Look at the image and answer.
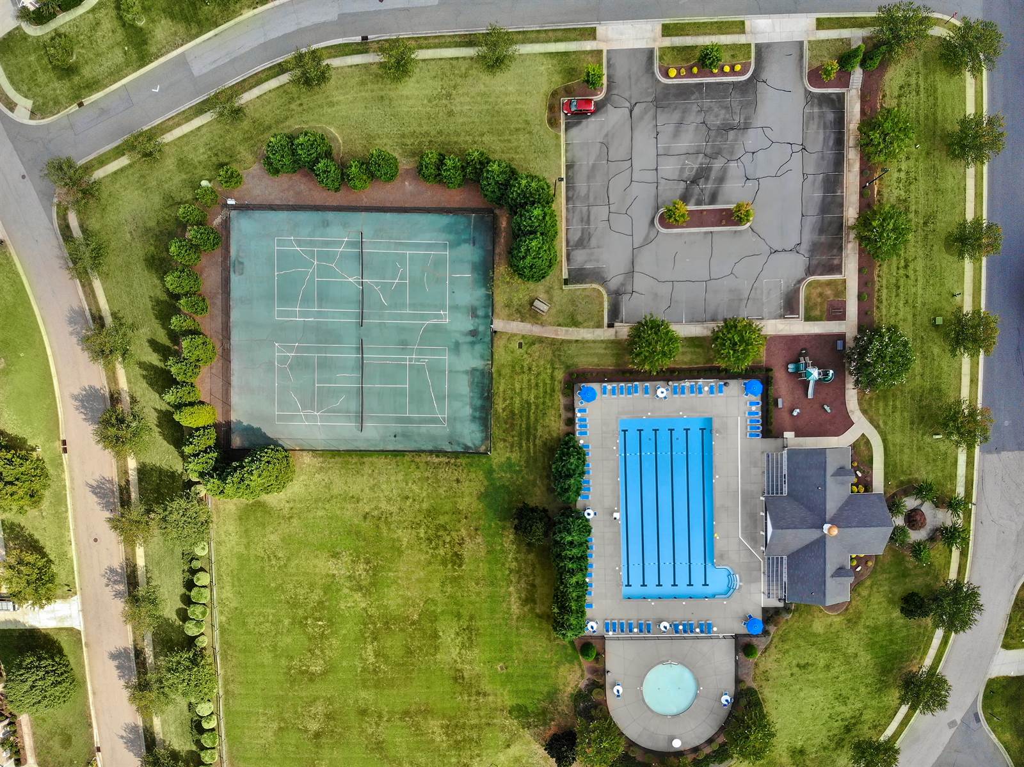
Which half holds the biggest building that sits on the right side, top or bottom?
bottom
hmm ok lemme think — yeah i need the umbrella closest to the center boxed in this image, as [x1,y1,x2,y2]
[580,386,597,403]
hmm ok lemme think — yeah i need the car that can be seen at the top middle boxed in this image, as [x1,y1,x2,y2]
[565,96,596,114]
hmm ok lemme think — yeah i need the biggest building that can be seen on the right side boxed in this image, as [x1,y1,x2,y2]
[757,447,894,609]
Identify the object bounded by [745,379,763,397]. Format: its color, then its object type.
blue umbrella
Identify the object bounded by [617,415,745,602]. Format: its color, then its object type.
blue swimming pool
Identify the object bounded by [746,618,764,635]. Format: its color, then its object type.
blue umbrella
